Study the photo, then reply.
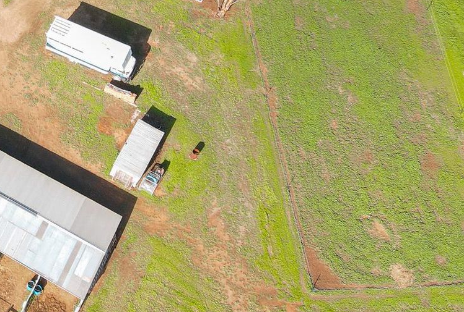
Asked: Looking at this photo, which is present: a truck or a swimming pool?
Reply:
truck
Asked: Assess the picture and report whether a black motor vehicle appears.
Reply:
No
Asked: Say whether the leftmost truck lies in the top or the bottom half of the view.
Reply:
top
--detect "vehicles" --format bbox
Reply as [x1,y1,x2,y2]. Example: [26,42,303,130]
[141,147,171,197]
[42,16,136,87]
